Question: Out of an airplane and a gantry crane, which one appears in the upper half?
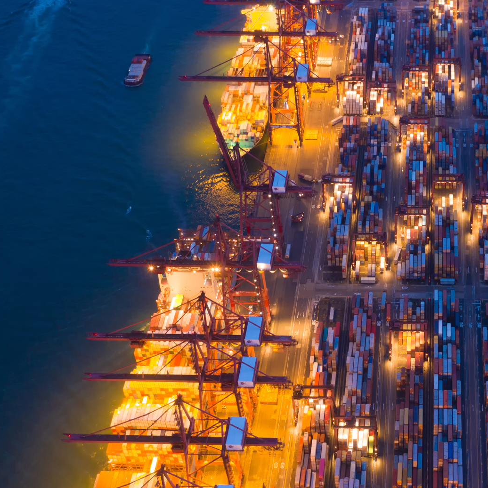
gantry crane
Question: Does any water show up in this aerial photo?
Yes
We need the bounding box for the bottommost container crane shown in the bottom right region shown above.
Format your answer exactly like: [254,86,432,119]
[330,419,380,458]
